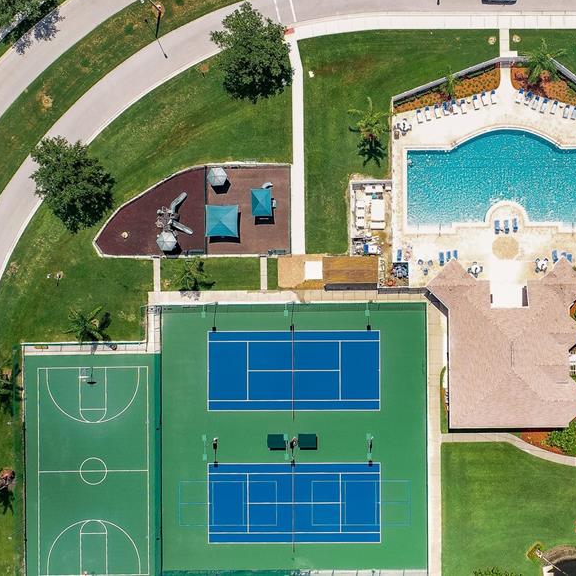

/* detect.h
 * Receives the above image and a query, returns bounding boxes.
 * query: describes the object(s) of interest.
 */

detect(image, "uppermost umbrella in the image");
[207,168,227,185]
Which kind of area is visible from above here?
sports ground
